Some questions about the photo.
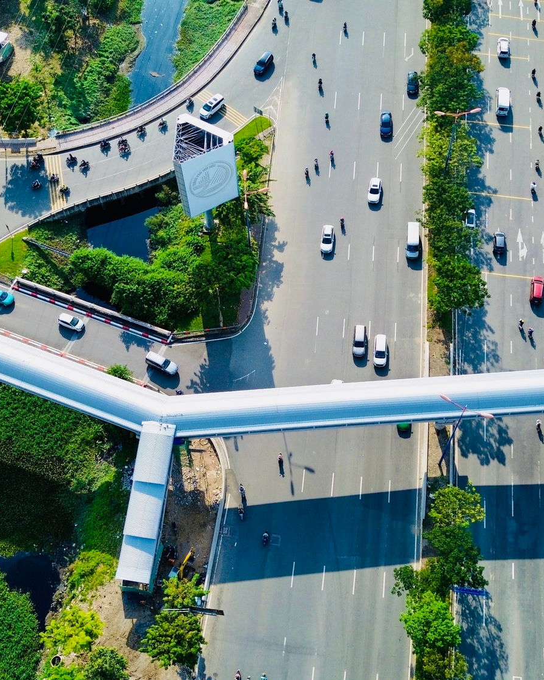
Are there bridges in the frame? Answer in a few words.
Yes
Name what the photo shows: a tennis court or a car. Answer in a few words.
car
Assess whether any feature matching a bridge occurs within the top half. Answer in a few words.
Yes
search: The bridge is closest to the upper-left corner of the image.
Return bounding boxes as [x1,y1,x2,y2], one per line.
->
[43,169,176,218]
